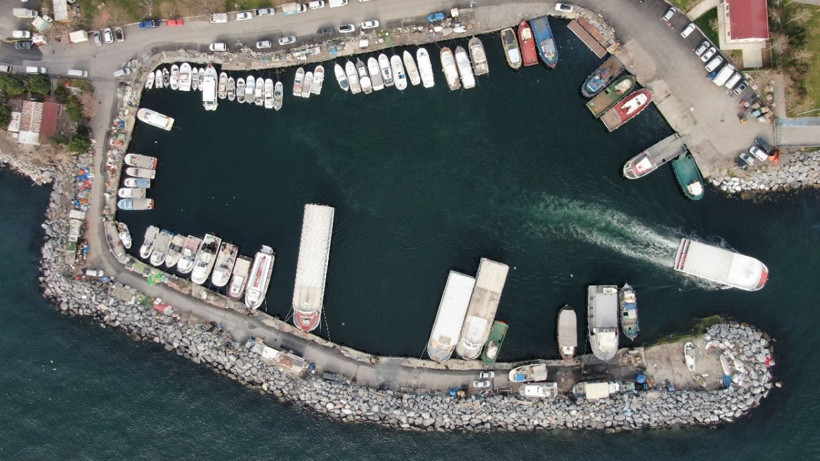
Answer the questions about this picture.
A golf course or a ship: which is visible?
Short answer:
ship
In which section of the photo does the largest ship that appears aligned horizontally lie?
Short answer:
right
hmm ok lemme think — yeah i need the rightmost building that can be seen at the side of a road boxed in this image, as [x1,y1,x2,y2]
[718,0,769,50]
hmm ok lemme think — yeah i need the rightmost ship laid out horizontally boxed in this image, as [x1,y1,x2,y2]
[672,239,770,287]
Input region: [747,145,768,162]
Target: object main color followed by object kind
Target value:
white vehicle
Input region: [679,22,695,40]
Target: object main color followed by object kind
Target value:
white car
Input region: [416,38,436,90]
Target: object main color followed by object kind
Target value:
white boat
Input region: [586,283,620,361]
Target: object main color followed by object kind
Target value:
white ship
